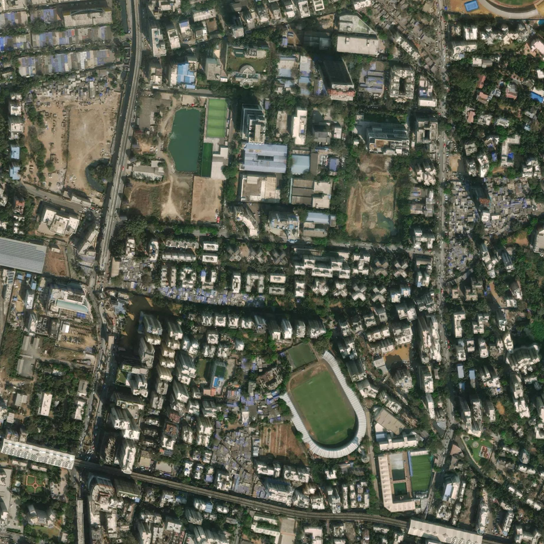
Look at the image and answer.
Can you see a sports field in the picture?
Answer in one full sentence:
Yes, I can see a sports field in this picture.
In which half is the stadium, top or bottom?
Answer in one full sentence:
Seen from above, the stadium lies in the bottom half of the view.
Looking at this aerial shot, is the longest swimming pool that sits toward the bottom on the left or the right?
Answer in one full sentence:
The longest swimming pool that sits toward the bottom is on the right side of the image.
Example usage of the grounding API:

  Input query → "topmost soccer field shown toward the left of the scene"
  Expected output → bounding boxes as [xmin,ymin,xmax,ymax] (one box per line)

[206,94,229,138]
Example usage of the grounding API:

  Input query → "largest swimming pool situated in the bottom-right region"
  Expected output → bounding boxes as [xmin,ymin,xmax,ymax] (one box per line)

[389,452,412,498]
